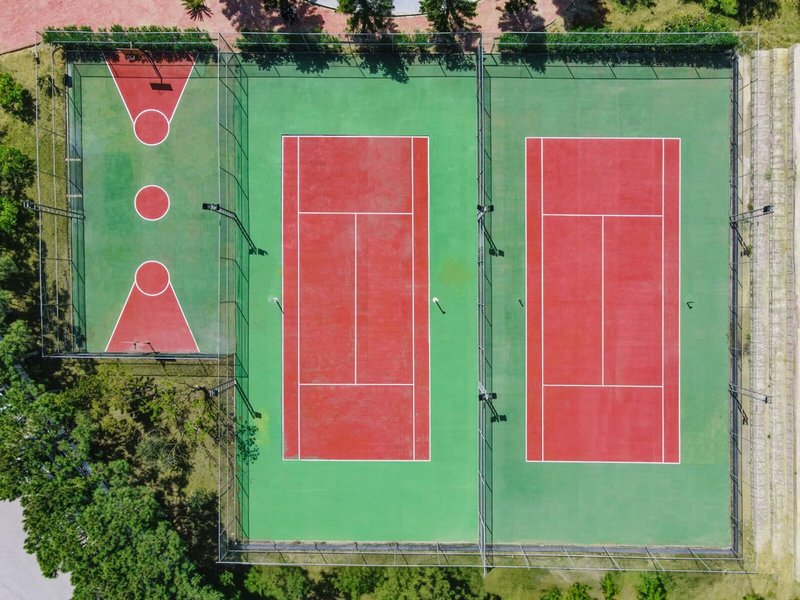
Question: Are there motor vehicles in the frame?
No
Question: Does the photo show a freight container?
No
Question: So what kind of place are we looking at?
sports ground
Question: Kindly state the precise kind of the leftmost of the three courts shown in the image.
basketball court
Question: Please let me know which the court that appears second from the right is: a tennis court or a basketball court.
tennis court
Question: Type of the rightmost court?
tennis court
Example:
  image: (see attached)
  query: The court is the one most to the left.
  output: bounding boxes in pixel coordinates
[68,51,234,353]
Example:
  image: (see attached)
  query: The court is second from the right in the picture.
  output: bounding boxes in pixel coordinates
[235,52,478,541]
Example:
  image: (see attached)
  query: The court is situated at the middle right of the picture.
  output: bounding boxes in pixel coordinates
[479,52,730,545]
